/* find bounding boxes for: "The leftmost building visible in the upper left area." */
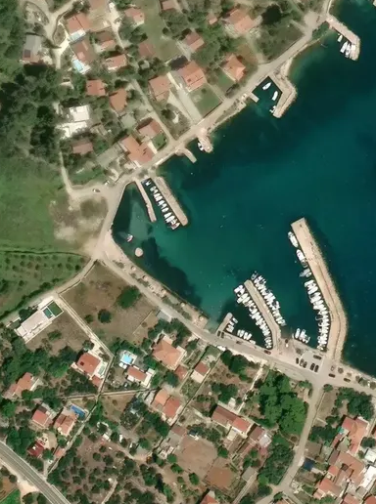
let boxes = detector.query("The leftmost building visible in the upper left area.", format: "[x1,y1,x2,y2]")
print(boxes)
[23,34,49,62]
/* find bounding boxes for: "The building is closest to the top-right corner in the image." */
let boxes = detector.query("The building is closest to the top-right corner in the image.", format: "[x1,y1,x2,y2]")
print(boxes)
[226,7,256,36]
